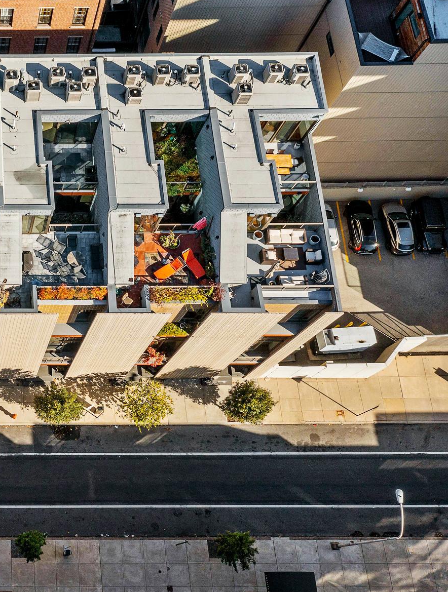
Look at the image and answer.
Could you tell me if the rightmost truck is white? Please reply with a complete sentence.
No, from above the rightmost truck looks black.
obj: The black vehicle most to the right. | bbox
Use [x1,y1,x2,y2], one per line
[407,196,448,266]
